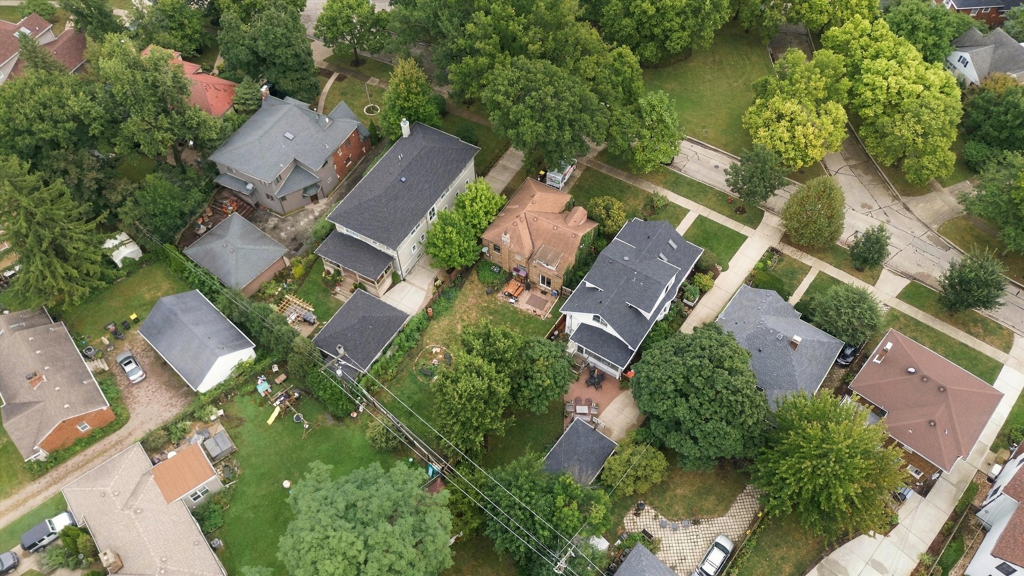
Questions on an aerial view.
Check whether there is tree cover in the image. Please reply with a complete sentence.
Yes, there's tree cover in this view.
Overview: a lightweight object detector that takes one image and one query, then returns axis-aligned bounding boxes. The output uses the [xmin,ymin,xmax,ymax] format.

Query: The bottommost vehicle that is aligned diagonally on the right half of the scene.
[698,532,739,576]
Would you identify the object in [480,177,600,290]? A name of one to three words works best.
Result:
house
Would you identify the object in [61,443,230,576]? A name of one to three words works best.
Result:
house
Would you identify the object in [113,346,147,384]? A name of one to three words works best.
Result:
car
